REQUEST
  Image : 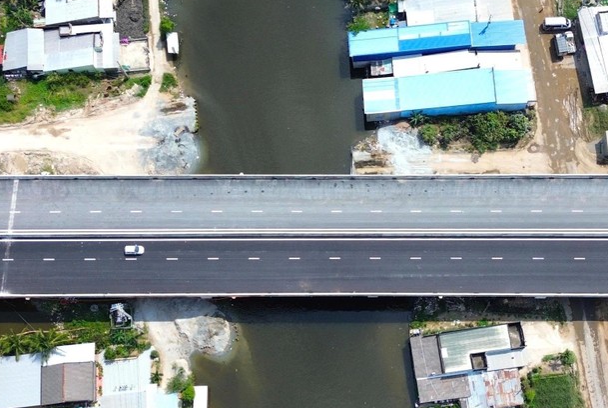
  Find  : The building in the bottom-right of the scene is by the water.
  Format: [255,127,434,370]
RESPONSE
[410,325,526,408]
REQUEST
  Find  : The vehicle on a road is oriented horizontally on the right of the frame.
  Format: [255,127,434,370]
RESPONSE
[542,19,569,31]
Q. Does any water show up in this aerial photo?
Yes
